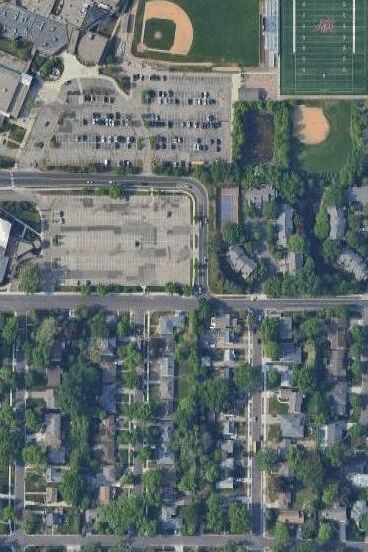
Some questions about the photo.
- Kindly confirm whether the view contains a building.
Yes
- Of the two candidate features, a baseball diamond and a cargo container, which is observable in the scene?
baseball diamond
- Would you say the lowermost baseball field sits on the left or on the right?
right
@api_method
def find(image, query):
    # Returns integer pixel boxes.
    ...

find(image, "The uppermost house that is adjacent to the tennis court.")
[245,184,275,201]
